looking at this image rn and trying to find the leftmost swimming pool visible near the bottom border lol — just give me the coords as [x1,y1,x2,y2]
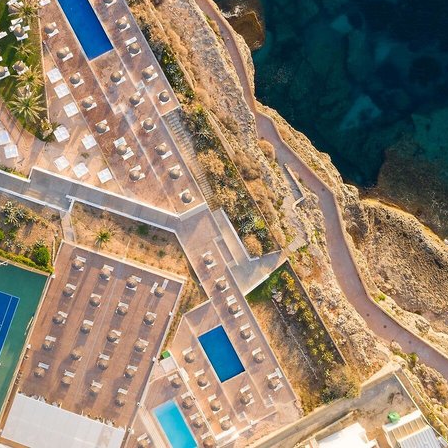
[152,398,200,448]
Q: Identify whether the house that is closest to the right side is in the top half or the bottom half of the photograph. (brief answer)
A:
bottom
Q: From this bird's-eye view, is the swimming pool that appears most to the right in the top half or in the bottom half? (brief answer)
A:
bottom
